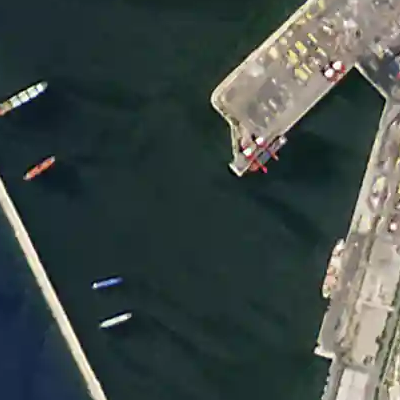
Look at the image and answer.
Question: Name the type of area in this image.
port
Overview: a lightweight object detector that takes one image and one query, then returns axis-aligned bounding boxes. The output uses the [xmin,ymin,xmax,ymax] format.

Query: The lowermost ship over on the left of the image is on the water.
[99,312,133,327]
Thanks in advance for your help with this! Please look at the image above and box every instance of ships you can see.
[99,312,133,327]
[324,239,346,299]
[22,157,55,180]
[92,278,123,289]
[0,83,48,113]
